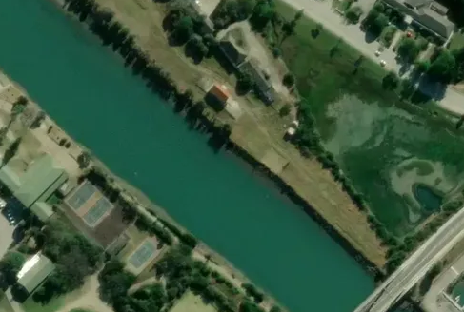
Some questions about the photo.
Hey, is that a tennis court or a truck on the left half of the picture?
tennis court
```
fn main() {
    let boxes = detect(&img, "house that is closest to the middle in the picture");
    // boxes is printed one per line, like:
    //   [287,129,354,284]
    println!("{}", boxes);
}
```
[203,84,228,108]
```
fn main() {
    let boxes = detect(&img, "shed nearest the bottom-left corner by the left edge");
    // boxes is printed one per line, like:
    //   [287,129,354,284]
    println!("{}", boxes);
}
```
[17,254,54,292]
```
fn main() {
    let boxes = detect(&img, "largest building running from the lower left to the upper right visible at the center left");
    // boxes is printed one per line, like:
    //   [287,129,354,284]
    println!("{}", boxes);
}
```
[14,154,66,203]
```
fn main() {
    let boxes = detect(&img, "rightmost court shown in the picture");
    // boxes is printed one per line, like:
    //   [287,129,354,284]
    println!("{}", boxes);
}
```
[123,235,161,277]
